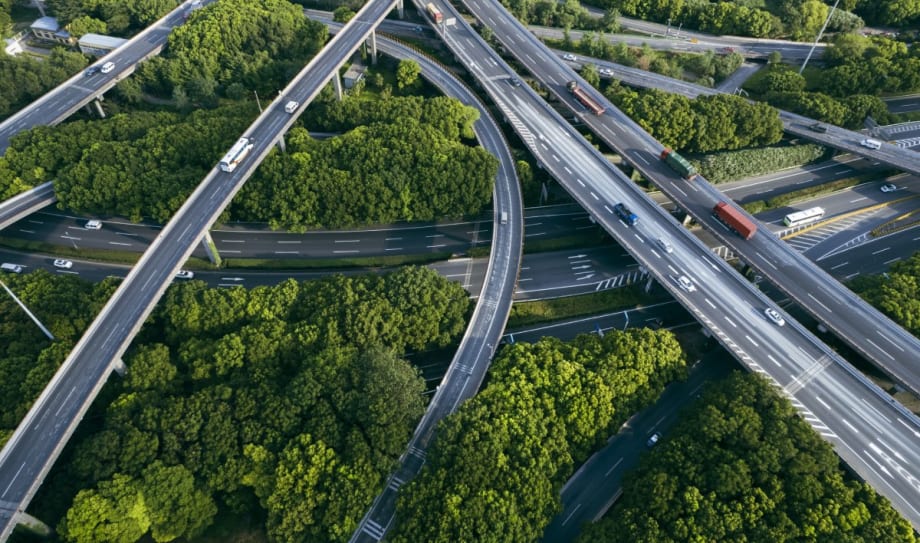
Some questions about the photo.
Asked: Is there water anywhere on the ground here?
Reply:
No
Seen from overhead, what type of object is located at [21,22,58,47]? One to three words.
building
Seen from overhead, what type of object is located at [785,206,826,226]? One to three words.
vehicle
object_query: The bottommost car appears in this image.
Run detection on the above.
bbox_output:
[644,431,661,450]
